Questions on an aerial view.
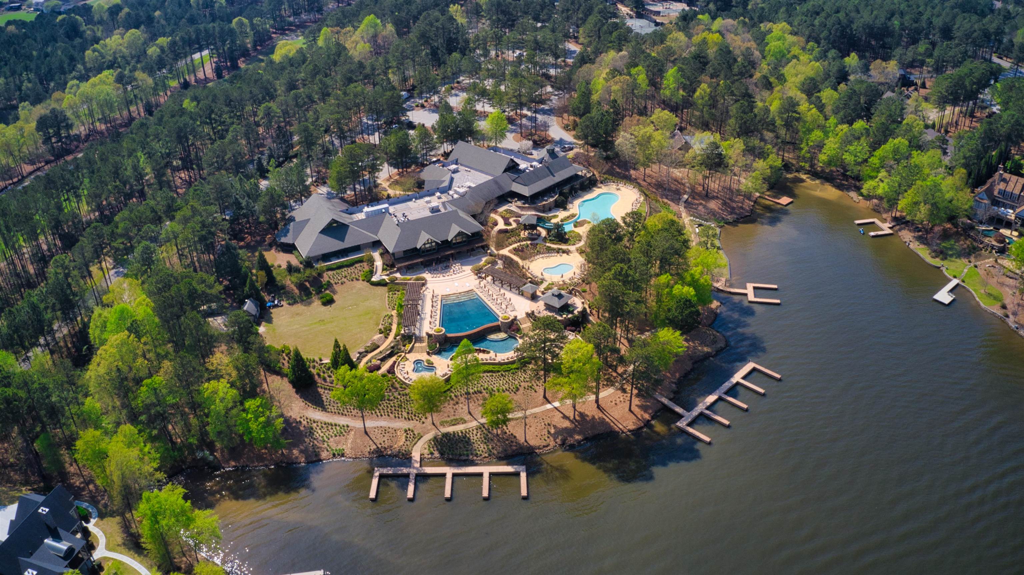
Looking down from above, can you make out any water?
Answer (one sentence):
Yes, there is water in the image.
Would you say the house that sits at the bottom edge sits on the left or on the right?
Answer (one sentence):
The house that sits at the bottom edge sits on the left side.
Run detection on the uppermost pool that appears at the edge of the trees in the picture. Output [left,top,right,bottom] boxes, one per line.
[566,192,619,231]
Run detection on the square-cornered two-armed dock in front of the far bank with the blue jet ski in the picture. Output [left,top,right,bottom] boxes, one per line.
[854,219,902,237]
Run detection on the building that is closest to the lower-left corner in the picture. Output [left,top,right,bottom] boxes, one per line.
[0,482,89,575]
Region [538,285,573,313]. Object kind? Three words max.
building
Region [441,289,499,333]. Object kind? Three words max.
swimming pool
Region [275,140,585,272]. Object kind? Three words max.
building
